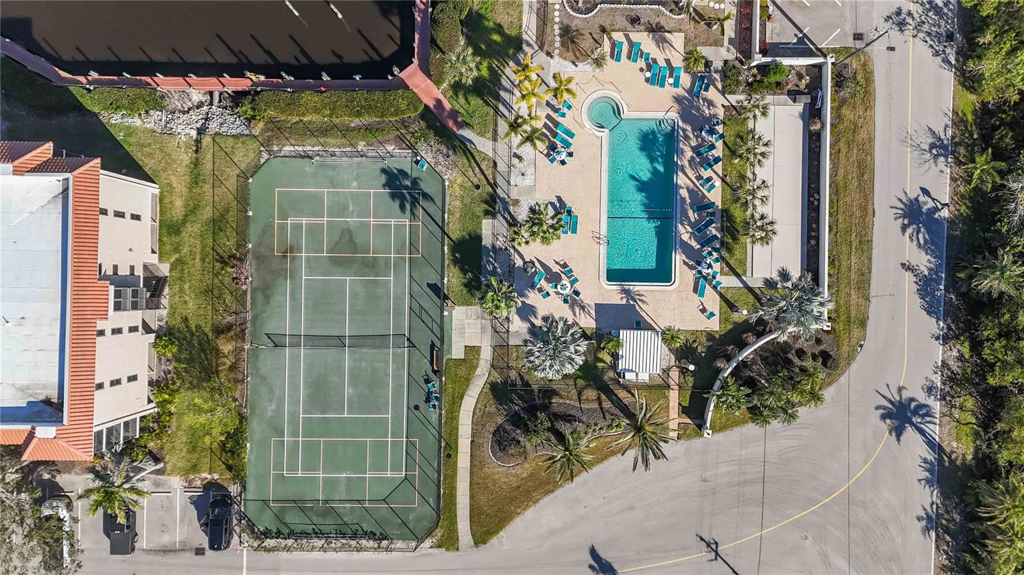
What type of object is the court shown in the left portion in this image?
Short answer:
tennis court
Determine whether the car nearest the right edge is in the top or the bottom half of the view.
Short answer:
bottom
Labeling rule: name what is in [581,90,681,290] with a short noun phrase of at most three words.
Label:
swimming pool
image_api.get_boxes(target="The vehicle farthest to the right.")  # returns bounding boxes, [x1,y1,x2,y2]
[204,491,233,545]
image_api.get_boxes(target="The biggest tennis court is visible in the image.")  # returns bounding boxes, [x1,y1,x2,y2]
[244,157,445,541]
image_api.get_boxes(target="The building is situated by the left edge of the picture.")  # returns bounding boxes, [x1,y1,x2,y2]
[0,140,176,463]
